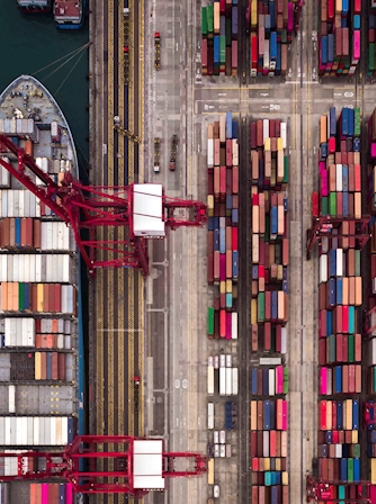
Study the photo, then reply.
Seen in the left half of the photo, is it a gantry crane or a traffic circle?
gantry crane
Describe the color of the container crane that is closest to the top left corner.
red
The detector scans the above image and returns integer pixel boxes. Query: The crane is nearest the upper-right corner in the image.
[308,212,372,252]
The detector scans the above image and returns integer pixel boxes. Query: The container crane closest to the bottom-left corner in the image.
[0,428,208,495]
